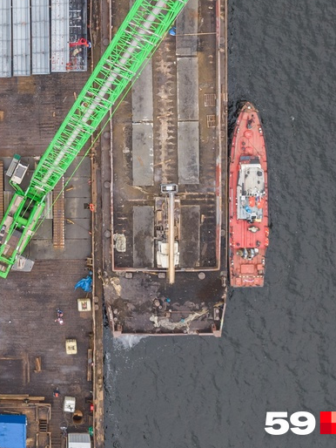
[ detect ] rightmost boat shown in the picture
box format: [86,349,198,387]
[228,101,271,287]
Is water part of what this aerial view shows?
Yes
